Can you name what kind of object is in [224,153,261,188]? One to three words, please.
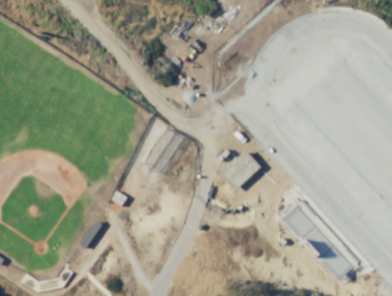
shed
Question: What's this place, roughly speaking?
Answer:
sports ground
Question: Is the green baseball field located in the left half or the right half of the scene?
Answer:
left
